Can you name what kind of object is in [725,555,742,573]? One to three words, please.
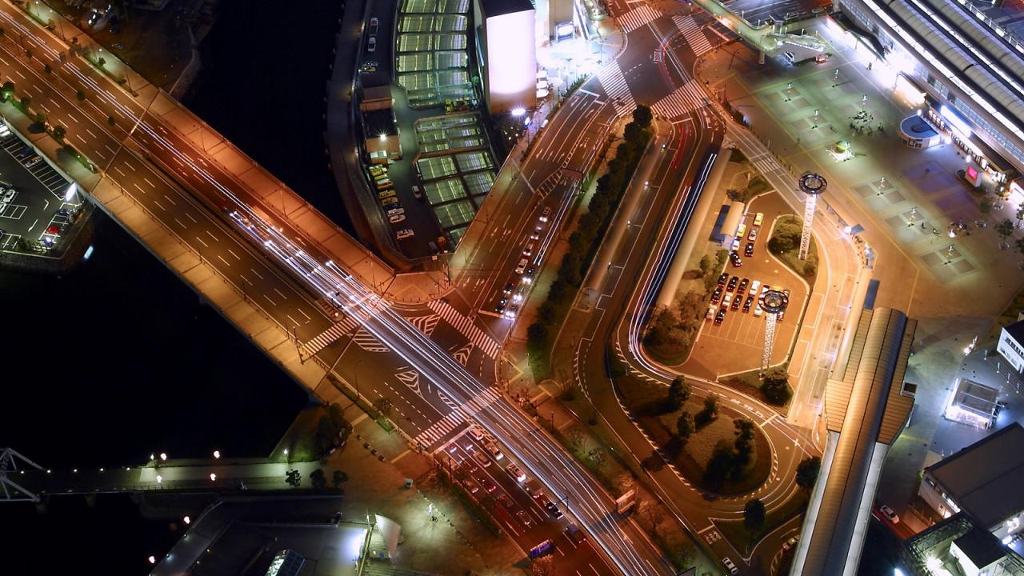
car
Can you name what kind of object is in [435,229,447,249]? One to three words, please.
vehicle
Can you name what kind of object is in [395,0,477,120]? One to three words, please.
building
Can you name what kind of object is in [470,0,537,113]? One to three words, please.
building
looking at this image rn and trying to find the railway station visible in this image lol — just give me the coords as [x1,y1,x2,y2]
[816,0,1024,178]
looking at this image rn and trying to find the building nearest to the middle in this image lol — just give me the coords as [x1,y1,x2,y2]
[414,110,500,257]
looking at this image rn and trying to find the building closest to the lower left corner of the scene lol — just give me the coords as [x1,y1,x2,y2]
[200,533,277,576]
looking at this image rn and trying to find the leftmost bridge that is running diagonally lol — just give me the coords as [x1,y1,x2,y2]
[88,86,395,397]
